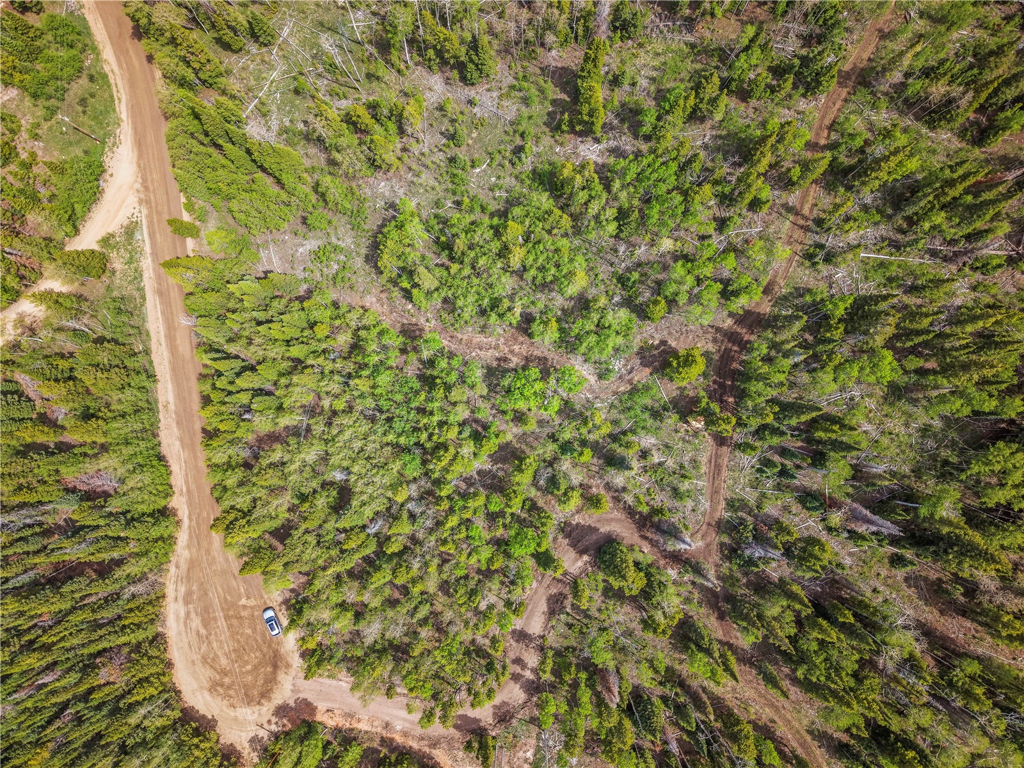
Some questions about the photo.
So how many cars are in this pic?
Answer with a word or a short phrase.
1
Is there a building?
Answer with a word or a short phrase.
No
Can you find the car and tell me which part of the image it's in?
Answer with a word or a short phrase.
bottom left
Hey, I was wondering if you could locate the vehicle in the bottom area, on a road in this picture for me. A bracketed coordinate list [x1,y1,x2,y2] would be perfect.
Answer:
[261,607,281,639]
